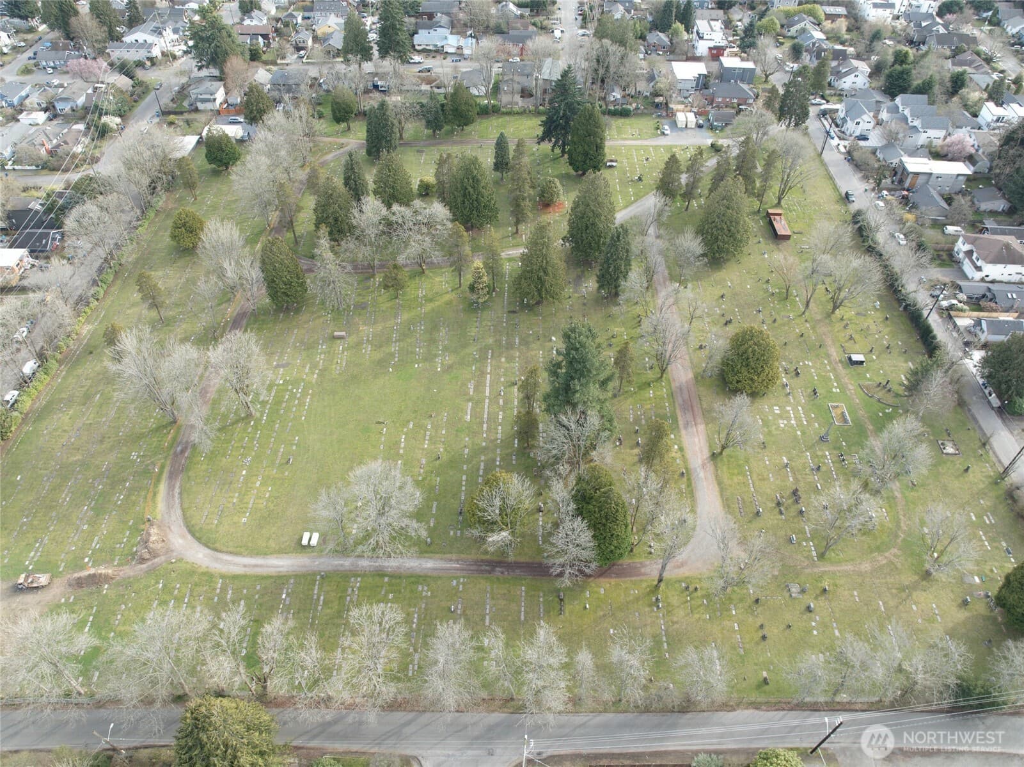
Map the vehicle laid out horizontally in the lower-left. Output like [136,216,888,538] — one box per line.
[8,574,50,593]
